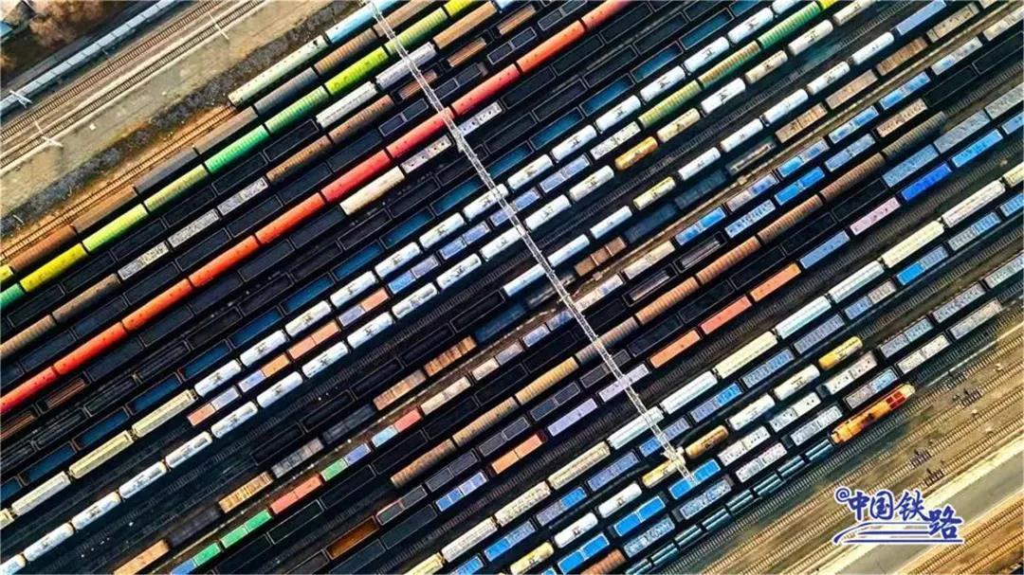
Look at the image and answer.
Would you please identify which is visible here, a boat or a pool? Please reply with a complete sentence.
I can see a boat in this picture.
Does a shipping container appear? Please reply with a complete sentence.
Yes, a shipping container is visible in the scene.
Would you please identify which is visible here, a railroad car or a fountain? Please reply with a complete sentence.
Visible in the photo is a railroad car.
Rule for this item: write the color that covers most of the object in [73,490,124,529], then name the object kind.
white rail car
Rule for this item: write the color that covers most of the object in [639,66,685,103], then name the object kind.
white rail car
